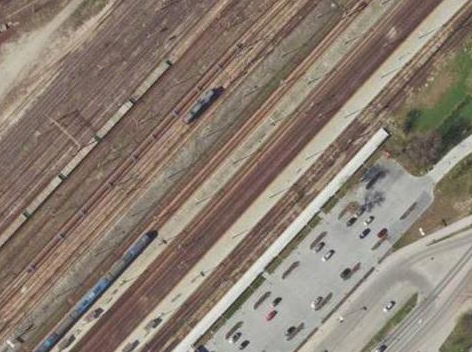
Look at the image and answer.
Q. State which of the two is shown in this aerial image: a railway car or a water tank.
railway car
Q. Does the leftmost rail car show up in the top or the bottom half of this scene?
bottom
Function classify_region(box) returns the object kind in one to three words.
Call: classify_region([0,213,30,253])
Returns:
rail car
